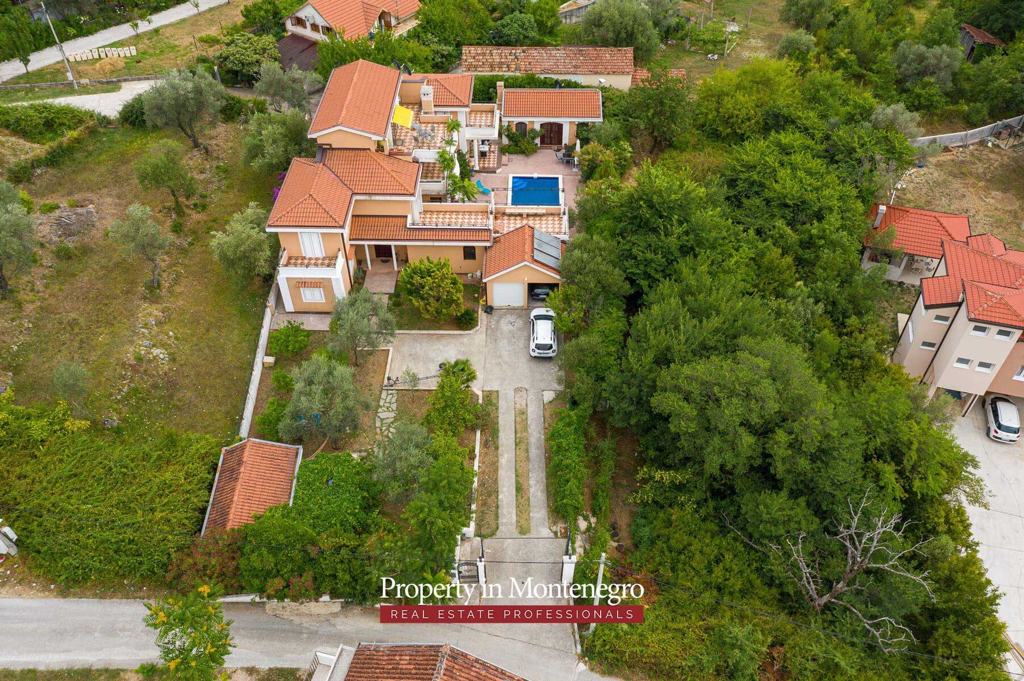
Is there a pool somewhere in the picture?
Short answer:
Yes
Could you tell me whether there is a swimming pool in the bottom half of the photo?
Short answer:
No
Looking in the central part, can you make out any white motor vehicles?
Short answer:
Yes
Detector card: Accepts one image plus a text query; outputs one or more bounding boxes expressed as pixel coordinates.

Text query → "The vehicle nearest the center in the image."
[526,310,558,355]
